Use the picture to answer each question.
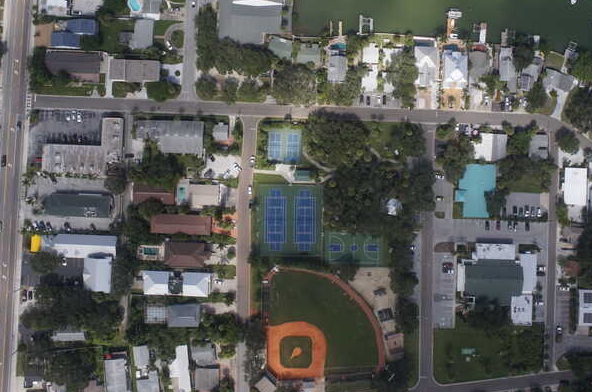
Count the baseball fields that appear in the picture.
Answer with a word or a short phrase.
one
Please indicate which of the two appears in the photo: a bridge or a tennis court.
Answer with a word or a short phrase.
tennis court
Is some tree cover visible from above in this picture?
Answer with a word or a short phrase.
Yes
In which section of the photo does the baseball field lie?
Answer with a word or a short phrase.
bottom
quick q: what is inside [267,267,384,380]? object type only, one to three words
baseball field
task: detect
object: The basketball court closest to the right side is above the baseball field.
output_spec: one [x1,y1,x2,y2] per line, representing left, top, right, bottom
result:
[325,232,390,267]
